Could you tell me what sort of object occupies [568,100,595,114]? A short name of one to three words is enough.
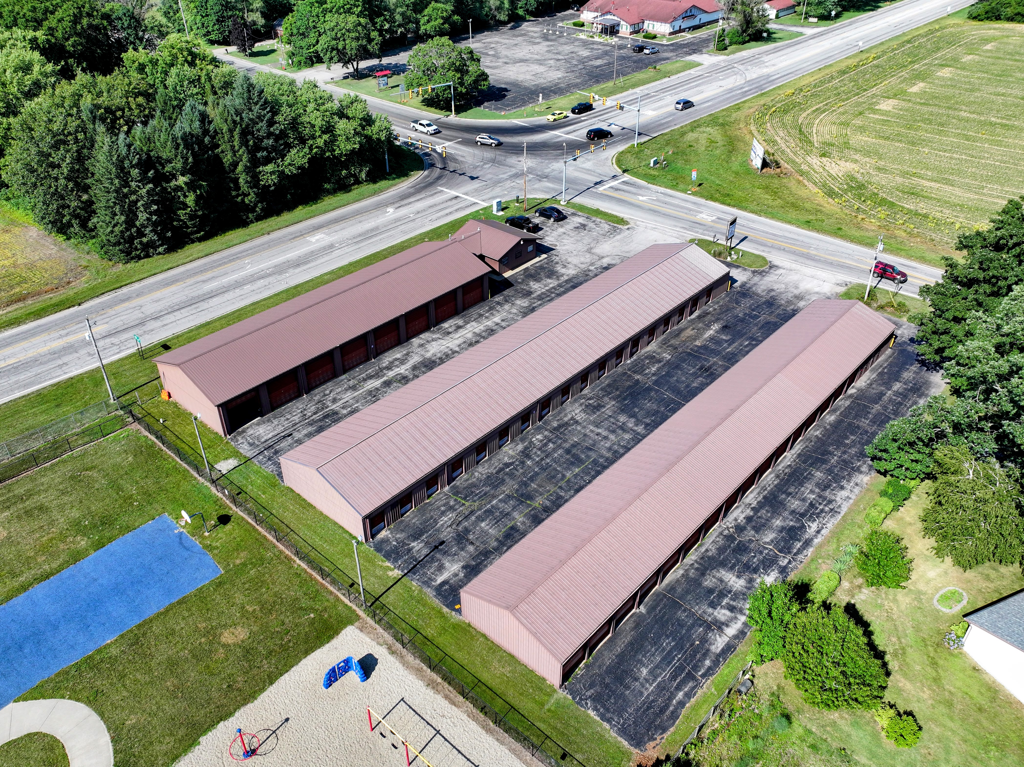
vehicle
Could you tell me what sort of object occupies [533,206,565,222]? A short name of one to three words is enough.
car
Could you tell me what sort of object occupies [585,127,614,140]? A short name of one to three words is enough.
vehicle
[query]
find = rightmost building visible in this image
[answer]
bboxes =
[964,553,1024,679]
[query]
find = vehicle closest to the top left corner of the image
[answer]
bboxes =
[411,120,439,135]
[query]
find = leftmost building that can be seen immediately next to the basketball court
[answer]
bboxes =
[151,235,494,438]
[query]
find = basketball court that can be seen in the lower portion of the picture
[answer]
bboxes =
[0,513,222,709]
